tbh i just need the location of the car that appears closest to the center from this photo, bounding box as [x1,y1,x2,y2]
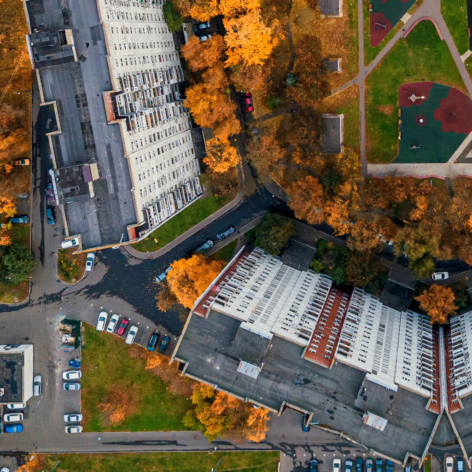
[214,226,237,241]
